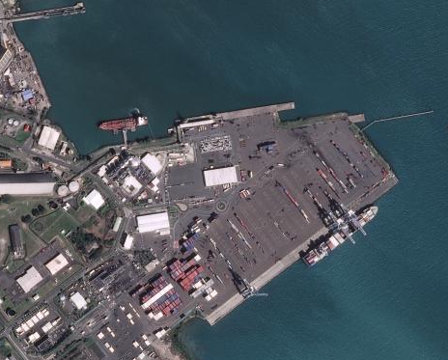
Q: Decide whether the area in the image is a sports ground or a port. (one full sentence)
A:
What you see here is a port.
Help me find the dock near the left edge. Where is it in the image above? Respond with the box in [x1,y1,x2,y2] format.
[10,2,87,22]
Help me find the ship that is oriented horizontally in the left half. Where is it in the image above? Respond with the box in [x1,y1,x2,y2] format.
[98,114,148,130]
